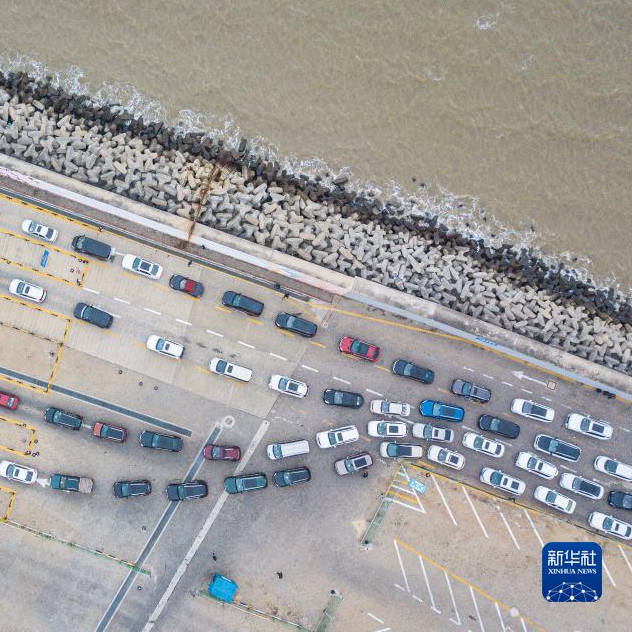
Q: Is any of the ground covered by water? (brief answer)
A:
Yes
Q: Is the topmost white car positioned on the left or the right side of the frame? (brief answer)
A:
left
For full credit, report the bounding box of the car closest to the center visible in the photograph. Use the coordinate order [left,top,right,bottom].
[275,313,317,337]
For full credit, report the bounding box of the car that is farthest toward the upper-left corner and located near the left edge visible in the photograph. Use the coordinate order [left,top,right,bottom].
[22,220,59,243]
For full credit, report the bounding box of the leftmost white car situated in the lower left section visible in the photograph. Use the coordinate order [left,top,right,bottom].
[0,460,38,483]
